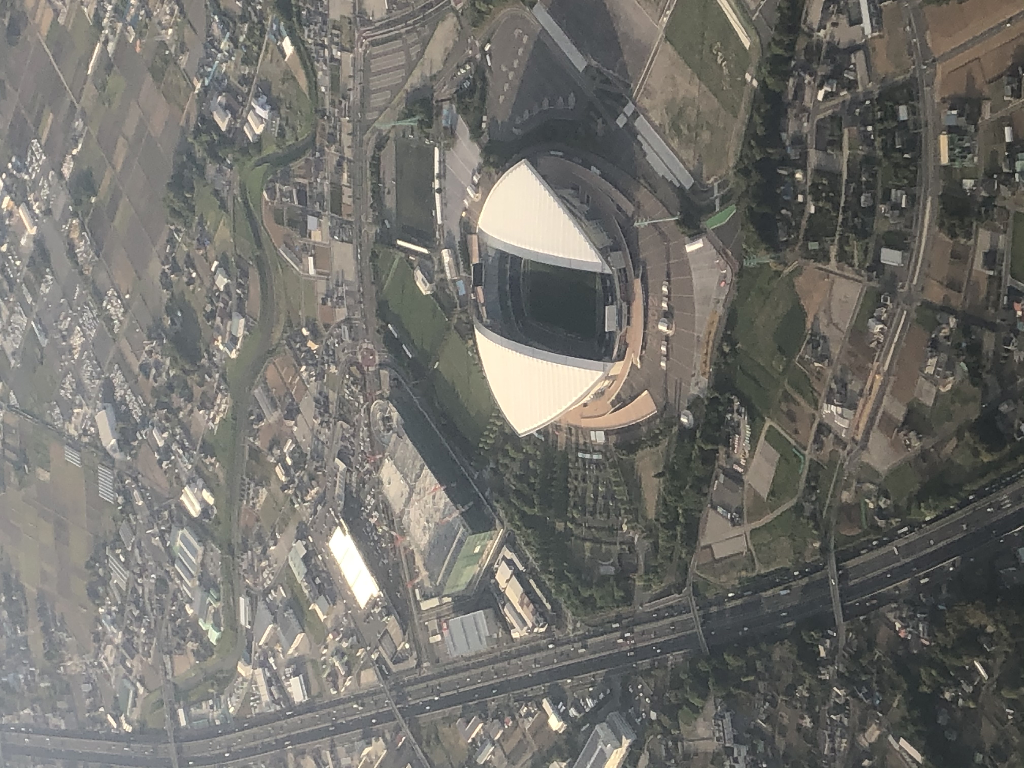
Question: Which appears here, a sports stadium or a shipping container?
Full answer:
I can see a sports stadium in this picture.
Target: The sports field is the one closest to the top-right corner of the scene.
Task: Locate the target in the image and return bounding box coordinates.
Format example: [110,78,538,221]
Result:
[526,259,598,342]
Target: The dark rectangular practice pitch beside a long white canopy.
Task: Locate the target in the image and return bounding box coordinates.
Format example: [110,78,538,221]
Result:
[395,139,437,231]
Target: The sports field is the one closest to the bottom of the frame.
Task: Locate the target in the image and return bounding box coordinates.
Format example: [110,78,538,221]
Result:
[433,329,498,445]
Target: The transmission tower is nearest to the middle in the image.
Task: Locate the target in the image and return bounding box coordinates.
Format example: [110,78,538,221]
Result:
[635,214,678,228]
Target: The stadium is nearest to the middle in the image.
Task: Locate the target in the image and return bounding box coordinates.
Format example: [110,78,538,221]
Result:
[470,155,661,442]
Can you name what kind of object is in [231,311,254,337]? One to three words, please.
building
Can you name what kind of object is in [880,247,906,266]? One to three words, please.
building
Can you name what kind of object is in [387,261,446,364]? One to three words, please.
sports field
